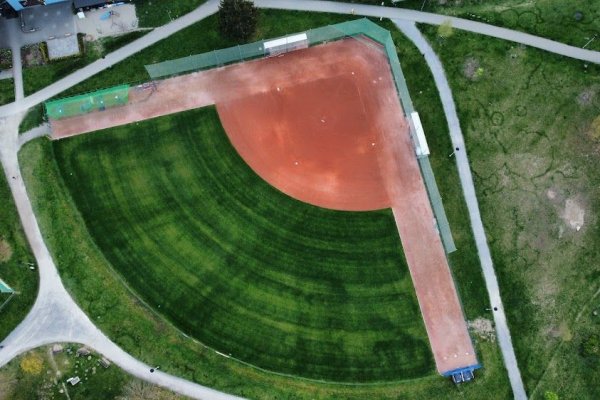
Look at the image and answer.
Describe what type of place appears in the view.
sports ground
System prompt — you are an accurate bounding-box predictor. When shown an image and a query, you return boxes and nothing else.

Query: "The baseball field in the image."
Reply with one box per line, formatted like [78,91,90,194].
[46,34,481,385]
